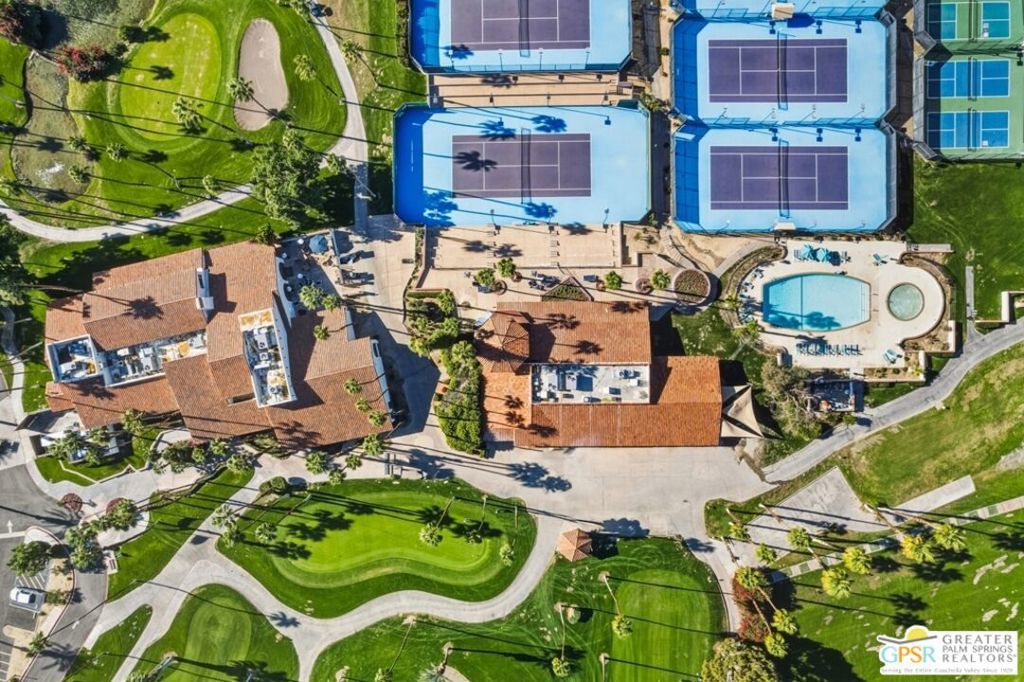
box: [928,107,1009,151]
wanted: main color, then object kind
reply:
blue sports court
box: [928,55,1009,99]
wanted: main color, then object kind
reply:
blue sports court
